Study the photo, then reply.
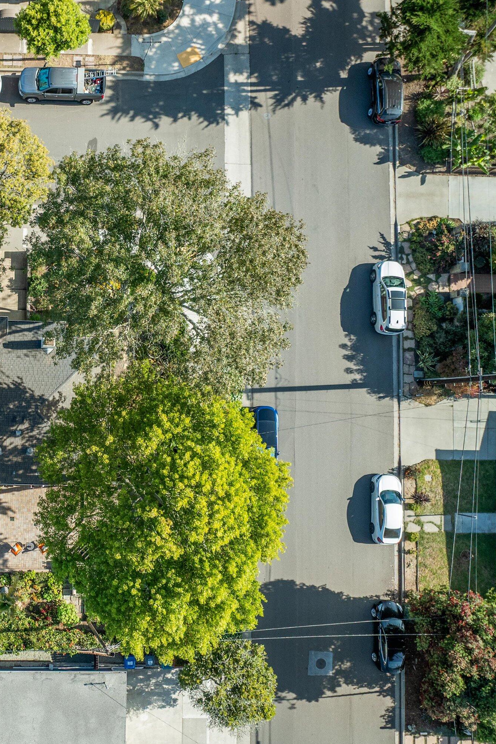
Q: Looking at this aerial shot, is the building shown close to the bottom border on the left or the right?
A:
left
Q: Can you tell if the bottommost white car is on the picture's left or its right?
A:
right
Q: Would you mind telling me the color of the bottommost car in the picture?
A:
black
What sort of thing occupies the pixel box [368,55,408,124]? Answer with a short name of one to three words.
car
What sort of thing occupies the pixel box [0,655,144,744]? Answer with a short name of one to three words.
building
